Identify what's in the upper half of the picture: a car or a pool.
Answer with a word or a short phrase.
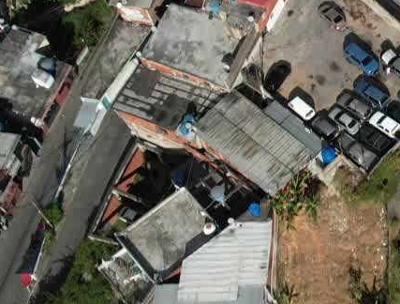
car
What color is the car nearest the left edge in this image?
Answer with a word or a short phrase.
black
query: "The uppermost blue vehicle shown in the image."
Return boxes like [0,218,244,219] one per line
[340,41,381,75]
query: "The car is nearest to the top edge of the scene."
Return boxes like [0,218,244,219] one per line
[318,2,348,31]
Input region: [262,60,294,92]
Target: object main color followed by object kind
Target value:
black car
